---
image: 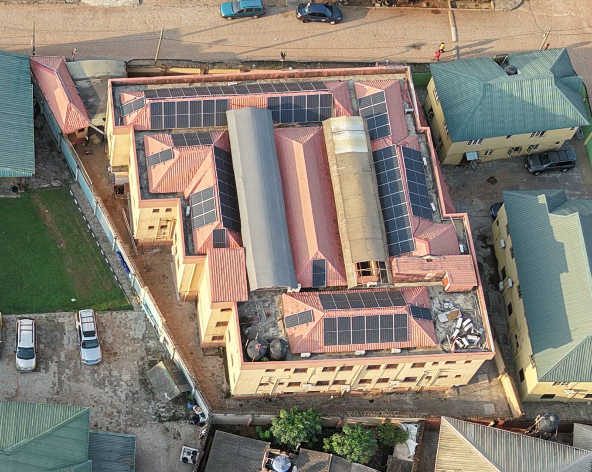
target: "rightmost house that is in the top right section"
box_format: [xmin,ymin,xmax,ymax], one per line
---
[425,47,592,161]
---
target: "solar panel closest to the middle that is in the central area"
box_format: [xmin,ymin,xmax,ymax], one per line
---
[313,259,326,287]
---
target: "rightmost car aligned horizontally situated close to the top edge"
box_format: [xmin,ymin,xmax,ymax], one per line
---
[295,4,343,26]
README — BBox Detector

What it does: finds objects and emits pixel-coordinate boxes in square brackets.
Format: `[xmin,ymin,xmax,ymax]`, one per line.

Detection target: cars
[219,0,266,21]
[523,147,579,177]
[76,311,102,365]
[487,198,504,220]
[295,4,343,26]
[14,319,38,371]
